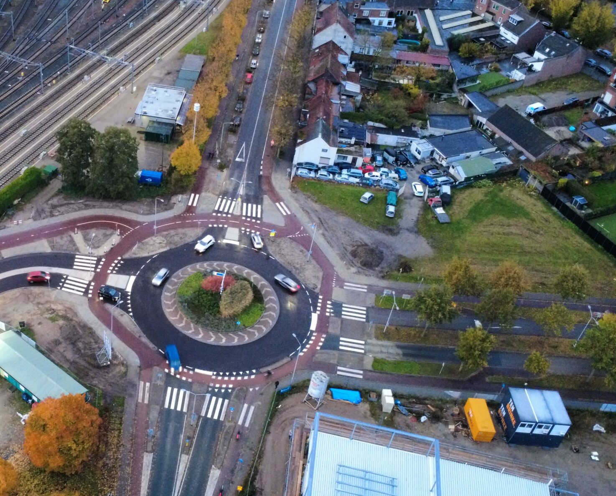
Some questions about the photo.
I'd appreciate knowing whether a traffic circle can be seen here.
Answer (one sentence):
Yes, a traffic circle can be made out from above.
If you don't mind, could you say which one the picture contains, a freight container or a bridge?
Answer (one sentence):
The one in the frame is a freight container.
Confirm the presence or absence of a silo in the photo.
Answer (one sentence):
Yes, I can see a silo in this picture.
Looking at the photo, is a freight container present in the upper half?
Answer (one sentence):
No, looking in the upper half, there is no freight container.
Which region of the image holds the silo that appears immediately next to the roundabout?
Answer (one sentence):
The silo that appears immediately next to the roundabout is located in the bottom region of the scene.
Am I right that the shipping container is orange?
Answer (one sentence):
Yes, the shipping container is orange.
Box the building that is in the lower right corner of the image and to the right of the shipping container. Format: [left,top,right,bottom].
[495,388,571,449]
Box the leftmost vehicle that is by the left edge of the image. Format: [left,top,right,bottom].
[27,270,51,283]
